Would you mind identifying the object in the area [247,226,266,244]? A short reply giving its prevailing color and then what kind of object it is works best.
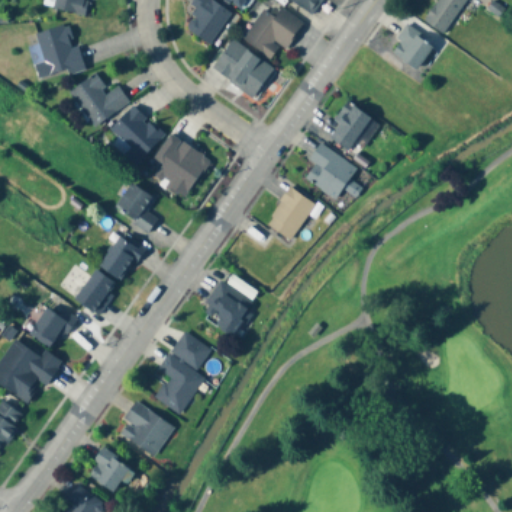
white camper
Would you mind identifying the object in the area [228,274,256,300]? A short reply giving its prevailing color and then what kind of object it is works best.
white camper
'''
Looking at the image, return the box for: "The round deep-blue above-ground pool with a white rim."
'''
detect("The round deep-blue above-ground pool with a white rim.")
[205,358,222,376]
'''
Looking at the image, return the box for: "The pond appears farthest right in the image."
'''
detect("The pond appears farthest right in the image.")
[471,225,512,356]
